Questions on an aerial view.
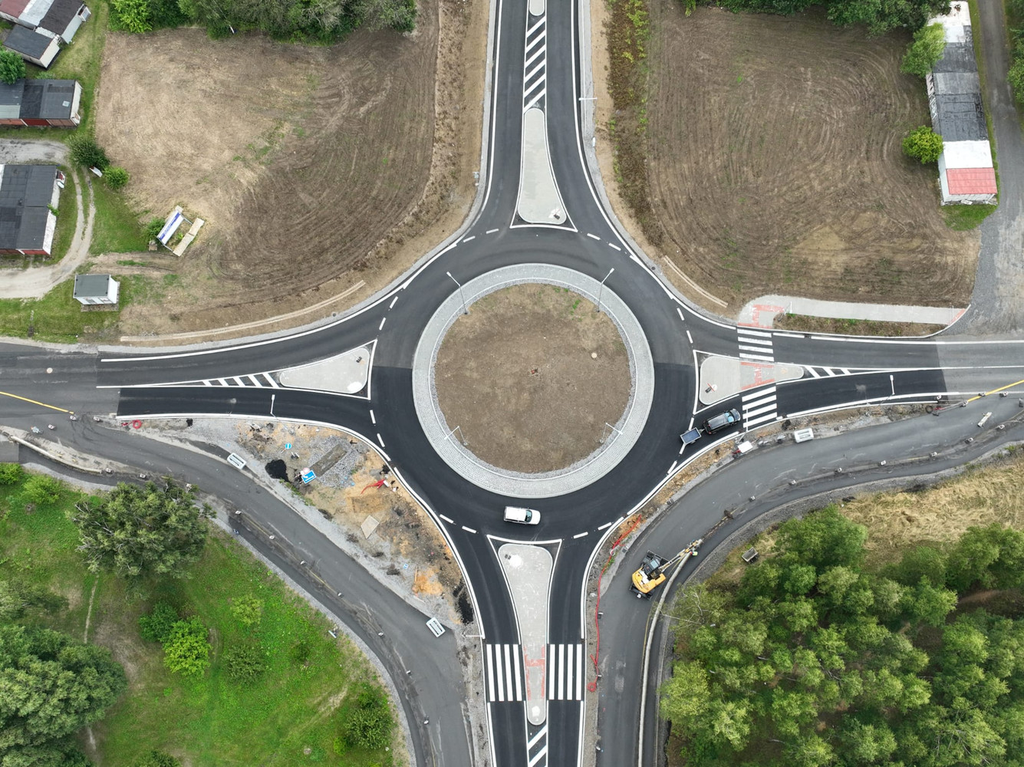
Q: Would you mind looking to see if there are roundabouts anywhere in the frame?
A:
Yes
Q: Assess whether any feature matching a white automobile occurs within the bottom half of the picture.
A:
Yes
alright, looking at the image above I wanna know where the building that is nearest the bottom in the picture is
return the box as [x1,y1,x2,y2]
[74,275,117,304]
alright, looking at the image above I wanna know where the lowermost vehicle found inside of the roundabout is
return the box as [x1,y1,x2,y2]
[504,509,540,527]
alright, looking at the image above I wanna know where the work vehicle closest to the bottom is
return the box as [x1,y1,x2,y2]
[629,536,704,602]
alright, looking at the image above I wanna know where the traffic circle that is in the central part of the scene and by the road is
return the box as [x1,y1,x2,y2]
[371,231,696,546]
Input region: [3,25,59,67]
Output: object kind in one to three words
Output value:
building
